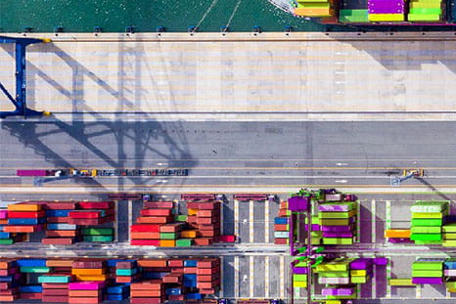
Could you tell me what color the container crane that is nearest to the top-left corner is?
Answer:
blue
